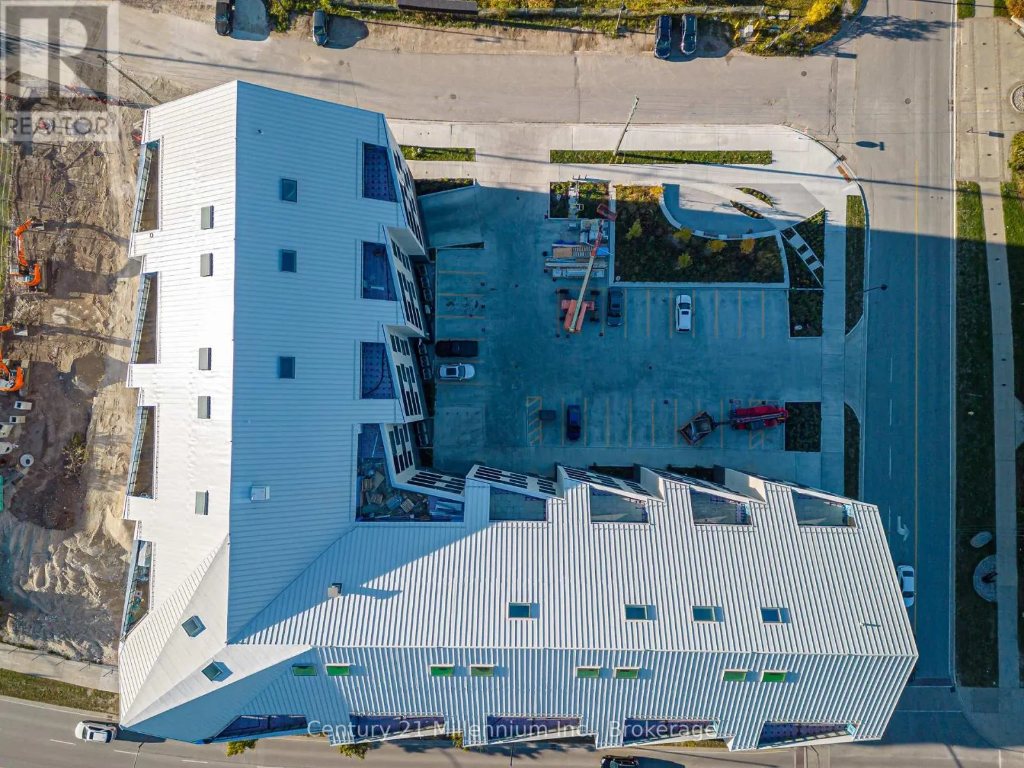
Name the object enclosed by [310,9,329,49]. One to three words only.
car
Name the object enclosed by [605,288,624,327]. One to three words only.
car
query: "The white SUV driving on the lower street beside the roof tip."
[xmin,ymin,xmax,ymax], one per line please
[76,719,120,742]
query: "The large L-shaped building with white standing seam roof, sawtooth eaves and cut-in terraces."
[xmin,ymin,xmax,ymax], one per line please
[118,79,920,751]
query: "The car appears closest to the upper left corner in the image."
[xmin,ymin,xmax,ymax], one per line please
[213,0,235,37]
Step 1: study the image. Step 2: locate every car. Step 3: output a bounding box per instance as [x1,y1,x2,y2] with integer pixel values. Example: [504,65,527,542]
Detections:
[438,363,475,381]
[679,14,699,56]
[435,339,480,358]
[653,15,673,60]
[896,564,916,605]
[565,404,583,440]
[213,0,235,37]
[310,9,329,49]
[674,294,693,333]
[605,288,624,327]
[76,719,120,742]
